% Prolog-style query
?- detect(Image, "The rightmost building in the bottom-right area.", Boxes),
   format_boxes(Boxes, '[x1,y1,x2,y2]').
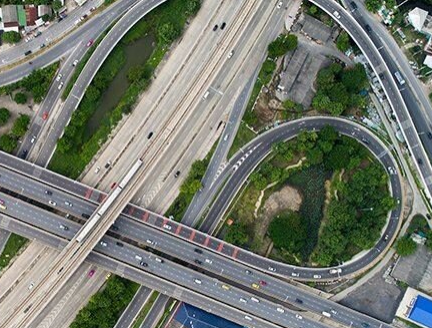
[389,287,432,328]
